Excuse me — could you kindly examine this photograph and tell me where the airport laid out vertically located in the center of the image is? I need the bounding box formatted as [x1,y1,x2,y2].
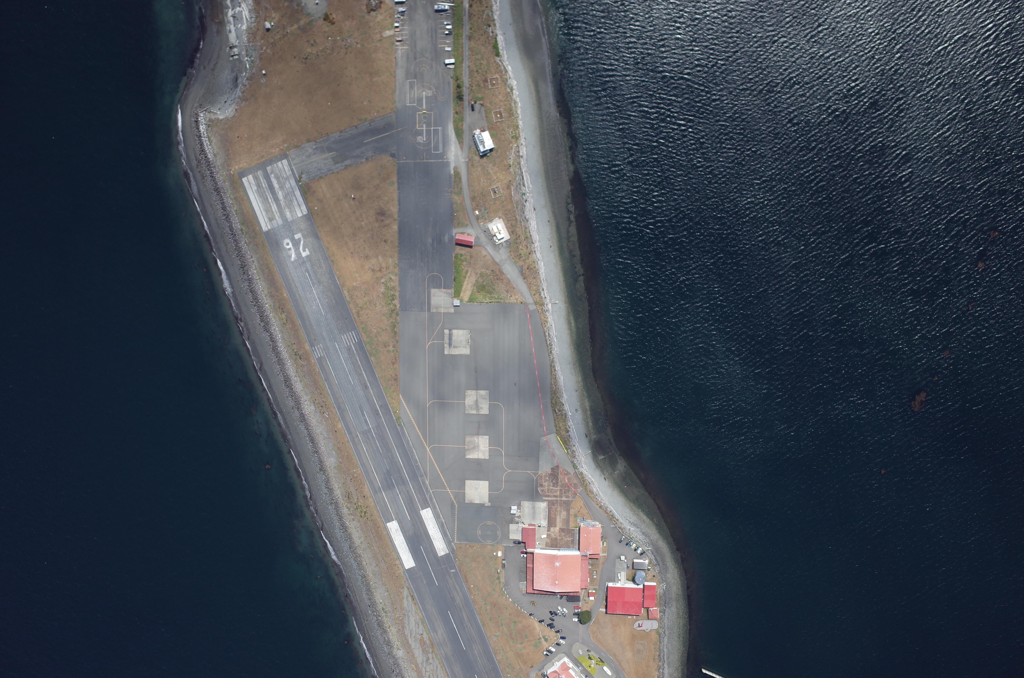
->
[238,0,583,678]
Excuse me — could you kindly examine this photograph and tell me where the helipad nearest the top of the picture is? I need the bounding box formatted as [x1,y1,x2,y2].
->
[431,289,454,313]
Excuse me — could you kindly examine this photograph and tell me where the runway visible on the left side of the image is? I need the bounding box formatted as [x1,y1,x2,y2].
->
[238,150,504,678]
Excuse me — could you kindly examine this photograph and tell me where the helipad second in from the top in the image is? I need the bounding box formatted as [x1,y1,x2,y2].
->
[444,330,470,354]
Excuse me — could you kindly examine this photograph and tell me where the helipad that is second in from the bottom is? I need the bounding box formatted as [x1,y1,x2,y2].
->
[465,435,489,459]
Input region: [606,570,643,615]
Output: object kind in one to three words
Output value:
building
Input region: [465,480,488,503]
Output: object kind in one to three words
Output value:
helipad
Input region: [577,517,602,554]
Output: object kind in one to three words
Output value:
building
